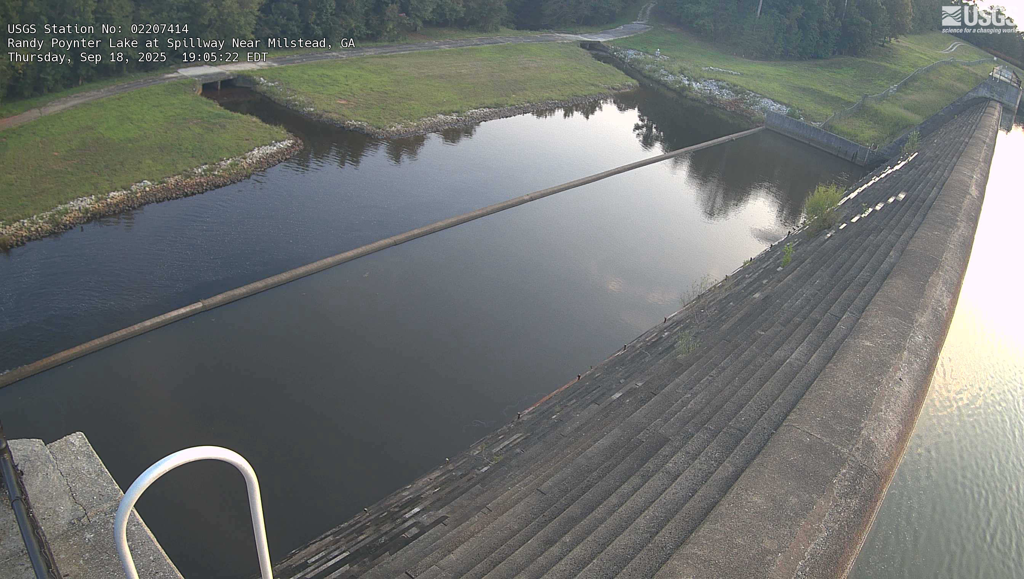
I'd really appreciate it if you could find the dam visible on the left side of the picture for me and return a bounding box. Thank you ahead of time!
[0,125,767,382]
